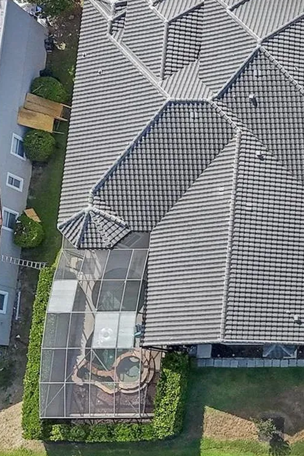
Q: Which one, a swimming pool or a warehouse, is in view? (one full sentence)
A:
This aerial view contains a swimming pool.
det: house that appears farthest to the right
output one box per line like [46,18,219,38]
[56,0,304,357]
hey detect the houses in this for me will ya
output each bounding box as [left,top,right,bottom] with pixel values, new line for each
[0,0,58,342]
[56,0,304,357]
